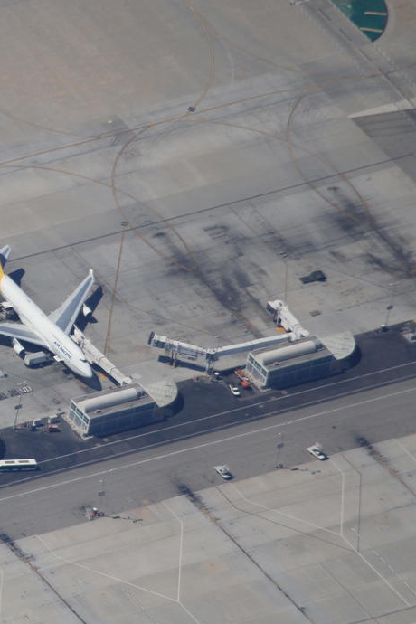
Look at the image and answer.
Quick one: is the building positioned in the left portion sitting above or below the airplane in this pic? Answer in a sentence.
The building positioned in the left portion appears below the airplane in the picture.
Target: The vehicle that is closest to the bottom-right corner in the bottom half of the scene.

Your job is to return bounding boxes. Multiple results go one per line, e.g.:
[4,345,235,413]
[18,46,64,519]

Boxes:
[308,441,324,458]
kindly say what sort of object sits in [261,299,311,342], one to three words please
jet bridge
